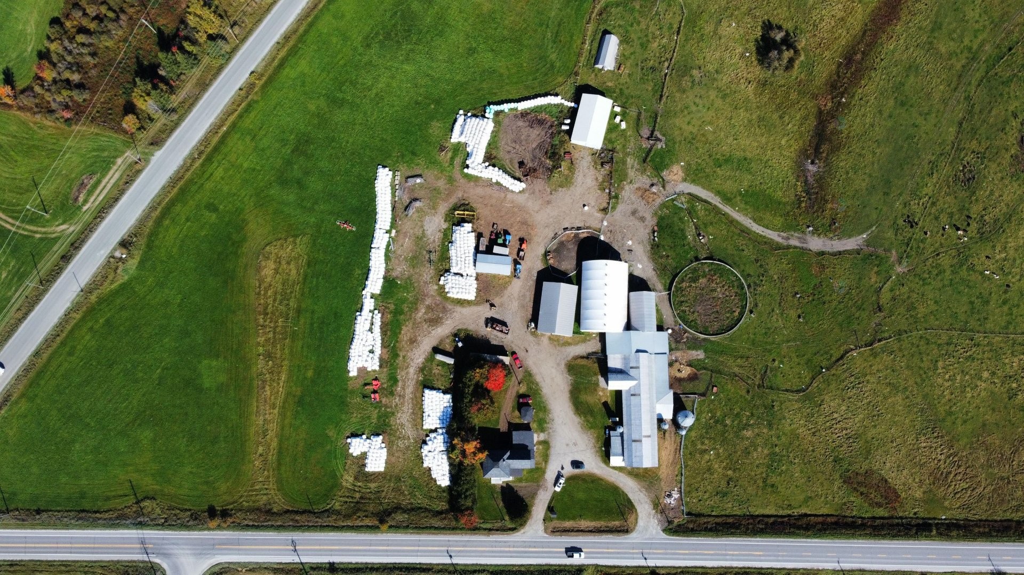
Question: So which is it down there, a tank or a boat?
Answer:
tank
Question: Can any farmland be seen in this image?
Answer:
Yes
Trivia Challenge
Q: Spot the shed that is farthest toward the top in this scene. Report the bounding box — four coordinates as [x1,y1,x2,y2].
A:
[596,34,621,73]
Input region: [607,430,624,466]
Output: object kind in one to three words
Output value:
building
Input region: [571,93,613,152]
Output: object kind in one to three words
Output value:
shed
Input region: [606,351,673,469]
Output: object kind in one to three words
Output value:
barn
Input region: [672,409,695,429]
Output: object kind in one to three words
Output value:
silo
